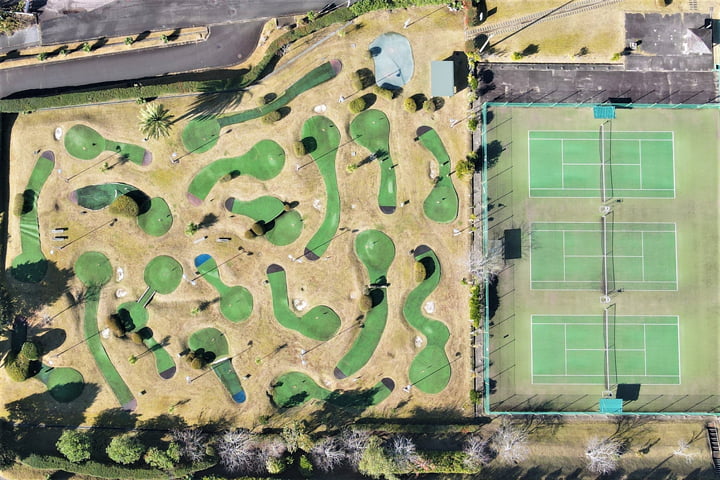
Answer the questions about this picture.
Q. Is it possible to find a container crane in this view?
No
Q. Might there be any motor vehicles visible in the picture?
No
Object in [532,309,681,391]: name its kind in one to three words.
tennis court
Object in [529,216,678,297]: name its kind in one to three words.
tennis court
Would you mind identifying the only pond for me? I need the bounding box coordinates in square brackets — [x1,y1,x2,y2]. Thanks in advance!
[367,31,415,89]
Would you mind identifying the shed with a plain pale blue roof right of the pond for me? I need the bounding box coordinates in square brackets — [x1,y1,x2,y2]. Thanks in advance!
[431,61,454,96]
